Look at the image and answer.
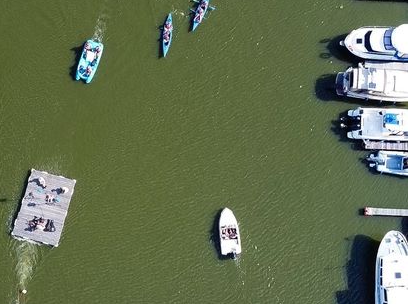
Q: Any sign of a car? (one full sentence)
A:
No, I can see no car in this picture.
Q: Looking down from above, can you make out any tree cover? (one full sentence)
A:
No, the scene doesn't show any tree cover.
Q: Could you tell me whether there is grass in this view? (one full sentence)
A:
No, no grass is visible.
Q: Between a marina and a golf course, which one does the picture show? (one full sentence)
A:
It's a marina.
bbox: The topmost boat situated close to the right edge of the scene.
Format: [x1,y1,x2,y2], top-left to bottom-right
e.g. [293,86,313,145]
[338,24,408,64]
